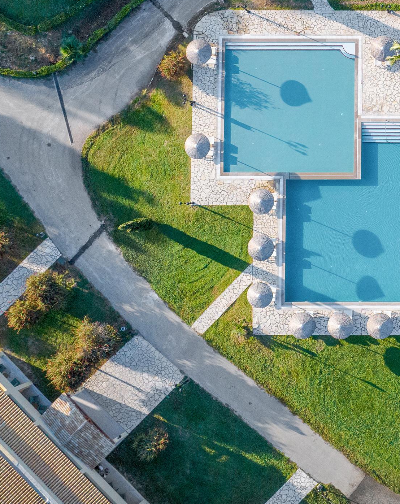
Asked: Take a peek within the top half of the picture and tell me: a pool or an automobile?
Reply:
pool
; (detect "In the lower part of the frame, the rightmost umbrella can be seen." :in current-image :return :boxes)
[368,312,392,337]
